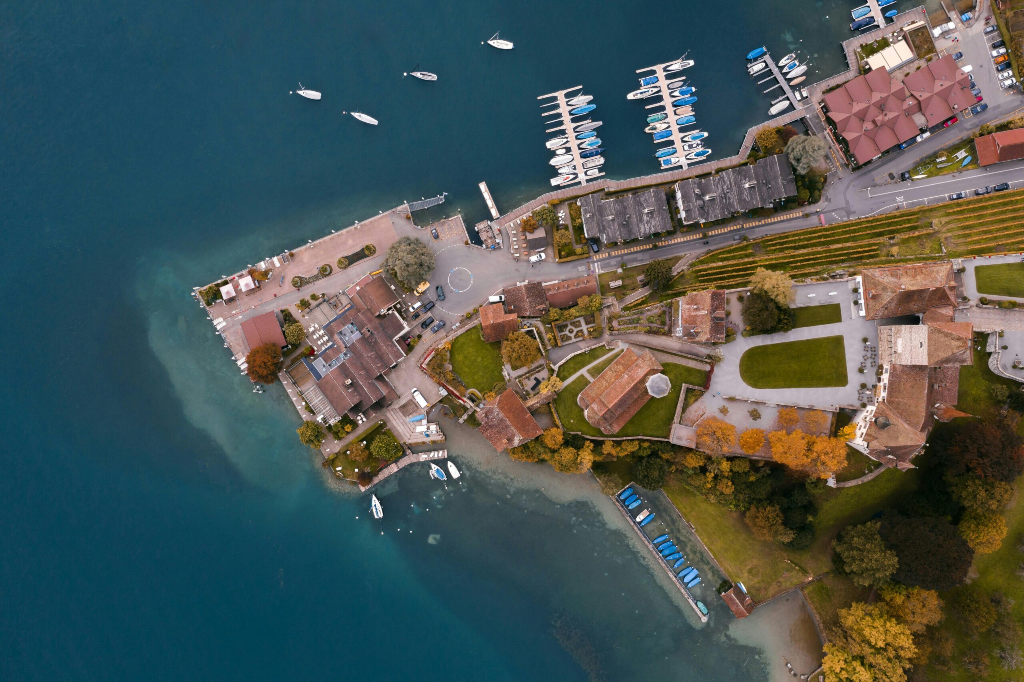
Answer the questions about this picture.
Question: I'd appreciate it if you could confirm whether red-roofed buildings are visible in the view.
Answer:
Yes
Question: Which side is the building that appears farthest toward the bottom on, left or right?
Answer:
right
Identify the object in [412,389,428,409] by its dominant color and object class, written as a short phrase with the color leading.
white vehicle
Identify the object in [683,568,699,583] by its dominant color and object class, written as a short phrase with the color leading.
blue boat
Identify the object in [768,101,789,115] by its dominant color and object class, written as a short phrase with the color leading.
white boat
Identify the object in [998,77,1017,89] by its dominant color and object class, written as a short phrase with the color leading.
white vehicle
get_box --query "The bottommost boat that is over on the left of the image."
[368,494,382,519]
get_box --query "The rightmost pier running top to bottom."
[635,58,707,170]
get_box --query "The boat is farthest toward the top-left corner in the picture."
[297,84,322,99]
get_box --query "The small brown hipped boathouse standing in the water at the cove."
[719,582,755,620]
